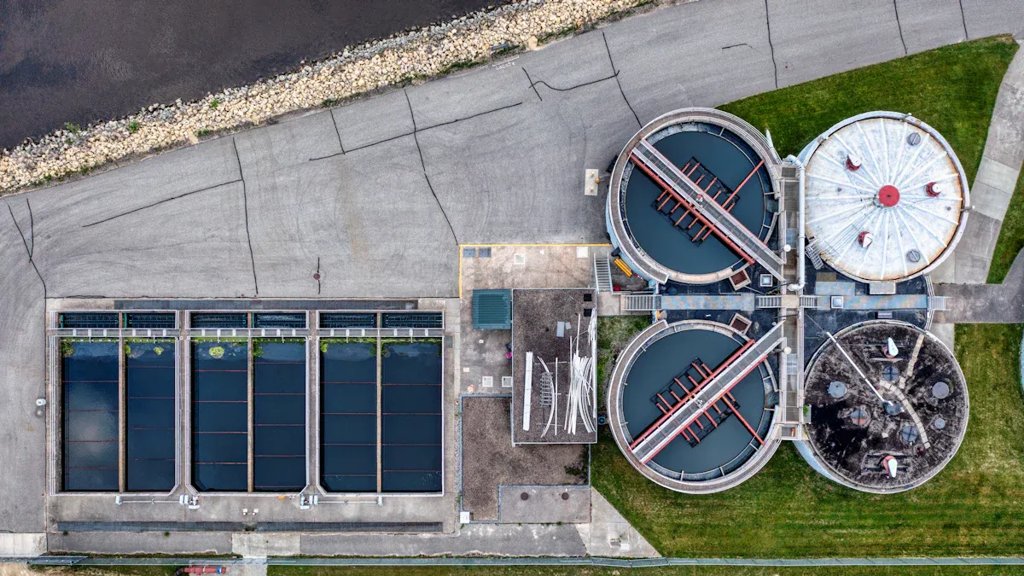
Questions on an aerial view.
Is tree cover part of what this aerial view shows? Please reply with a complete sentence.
No, no tree cover is visible.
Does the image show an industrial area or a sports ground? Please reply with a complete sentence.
It's an industrial area.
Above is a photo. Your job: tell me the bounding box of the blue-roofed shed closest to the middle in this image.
[473,289,511,330]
